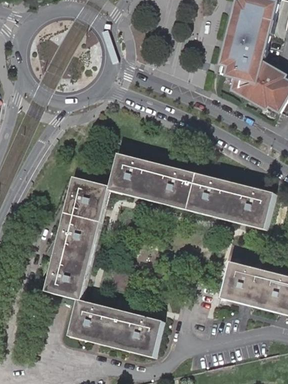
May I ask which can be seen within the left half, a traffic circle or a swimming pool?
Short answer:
traffic circle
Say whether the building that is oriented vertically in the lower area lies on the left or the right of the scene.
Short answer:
left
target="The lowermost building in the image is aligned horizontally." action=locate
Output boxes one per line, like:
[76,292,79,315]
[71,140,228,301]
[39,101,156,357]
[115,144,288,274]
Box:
[66,300,165,356]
